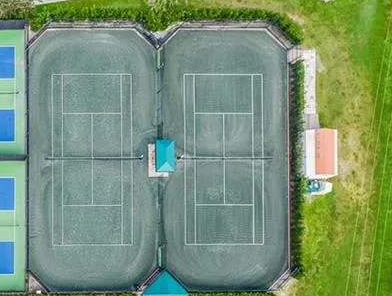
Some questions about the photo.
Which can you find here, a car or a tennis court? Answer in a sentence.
There is a tennis court in the scene.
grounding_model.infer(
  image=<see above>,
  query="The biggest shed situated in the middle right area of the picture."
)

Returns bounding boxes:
[302,129,336,180]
